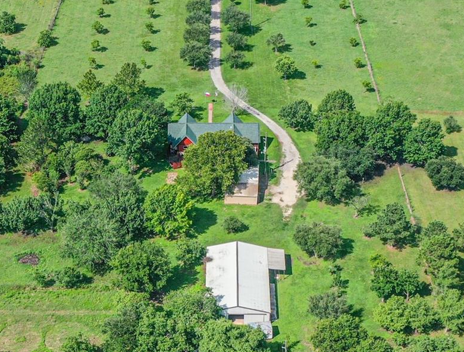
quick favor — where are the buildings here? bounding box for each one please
[168,112,258,171]
[224,166,258,205]
[206,240,286,331]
